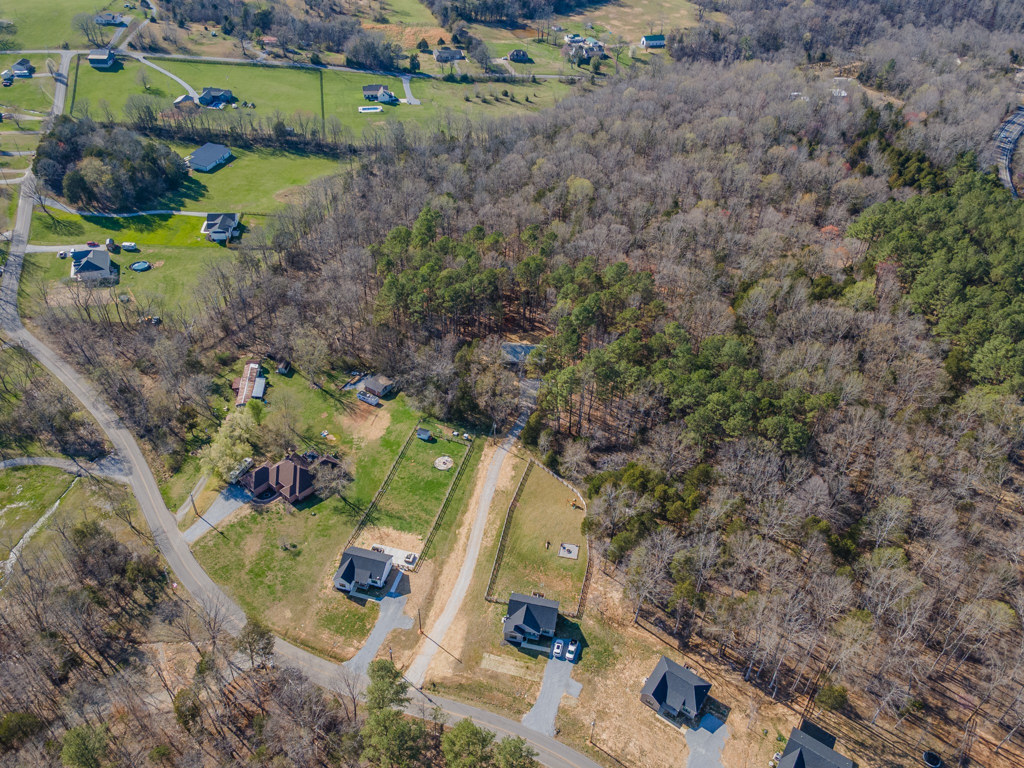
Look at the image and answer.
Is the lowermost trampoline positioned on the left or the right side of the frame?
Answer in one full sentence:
The lowermost trampoline appears in the right half of the scene.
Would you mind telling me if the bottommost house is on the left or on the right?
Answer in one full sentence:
The bottommost house is on the right side of the image.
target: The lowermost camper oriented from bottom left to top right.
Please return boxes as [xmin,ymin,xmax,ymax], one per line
[218,457,259,488]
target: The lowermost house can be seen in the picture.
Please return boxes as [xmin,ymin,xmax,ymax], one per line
[773,719,853,768]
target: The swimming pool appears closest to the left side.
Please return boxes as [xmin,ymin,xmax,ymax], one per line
[129,261,150,273]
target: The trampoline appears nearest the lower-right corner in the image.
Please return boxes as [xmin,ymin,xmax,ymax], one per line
[921,746,946,768]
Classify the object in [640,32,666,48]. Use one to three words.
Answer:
barn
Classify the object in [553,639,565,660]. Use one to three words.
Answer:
vehicle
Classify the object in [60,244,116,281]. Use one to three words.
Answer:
house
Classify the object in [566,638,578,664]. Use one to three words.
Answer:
vehicle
